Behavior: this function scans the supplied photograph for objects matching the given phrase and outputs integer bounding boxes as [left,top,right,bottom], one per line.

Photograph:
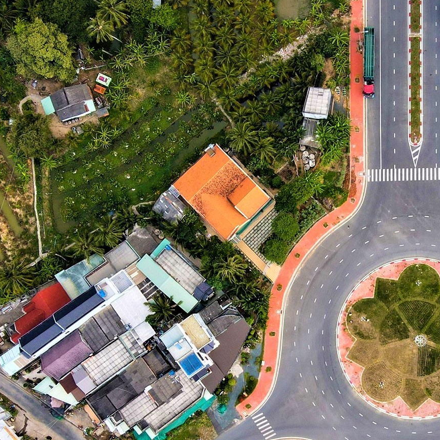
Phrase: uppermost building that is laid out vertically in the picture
[299,86,332,152]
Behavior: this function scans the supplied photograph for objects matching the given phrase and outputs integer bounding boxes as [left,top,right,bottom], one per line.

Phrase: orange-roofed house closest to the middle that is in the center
[153,143,274,239]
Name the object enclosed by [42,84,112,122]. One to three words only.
house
